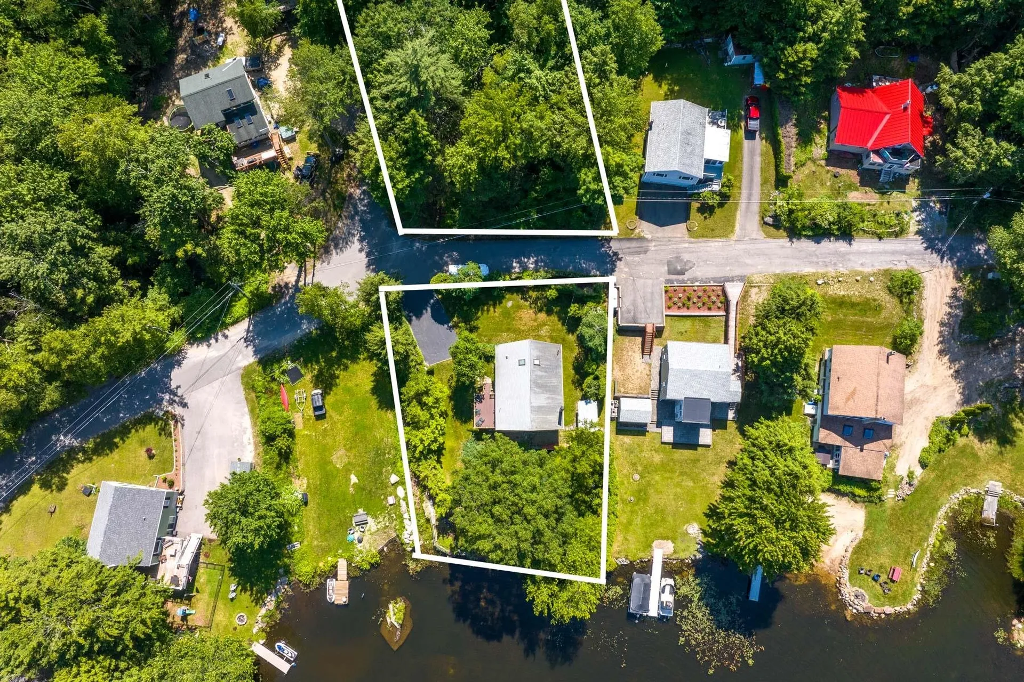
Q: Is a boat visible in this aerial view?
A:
Yes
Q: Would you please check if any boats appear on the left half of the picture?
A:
Yes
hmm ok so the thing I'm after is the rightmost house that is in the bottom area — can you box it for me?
[801,345,906,481]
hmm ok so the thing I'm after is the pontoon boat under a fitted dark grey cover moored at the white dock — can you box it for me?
[630,571,652,623]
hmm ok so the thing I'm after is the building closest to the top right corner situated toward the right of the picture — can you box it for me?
[827,79,934,184]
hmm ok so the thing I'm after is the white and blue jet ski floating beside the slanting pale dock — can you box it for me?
[274,645,297,662]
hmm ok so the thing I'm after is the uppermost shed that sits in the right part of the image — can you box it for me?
[729,33,763,65]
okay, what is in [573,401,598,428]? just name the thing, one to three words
shed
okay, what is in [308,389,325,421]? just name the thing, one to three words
car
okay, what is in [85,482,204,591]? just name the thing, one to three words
house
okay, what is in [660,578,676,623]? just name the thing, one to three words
boat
